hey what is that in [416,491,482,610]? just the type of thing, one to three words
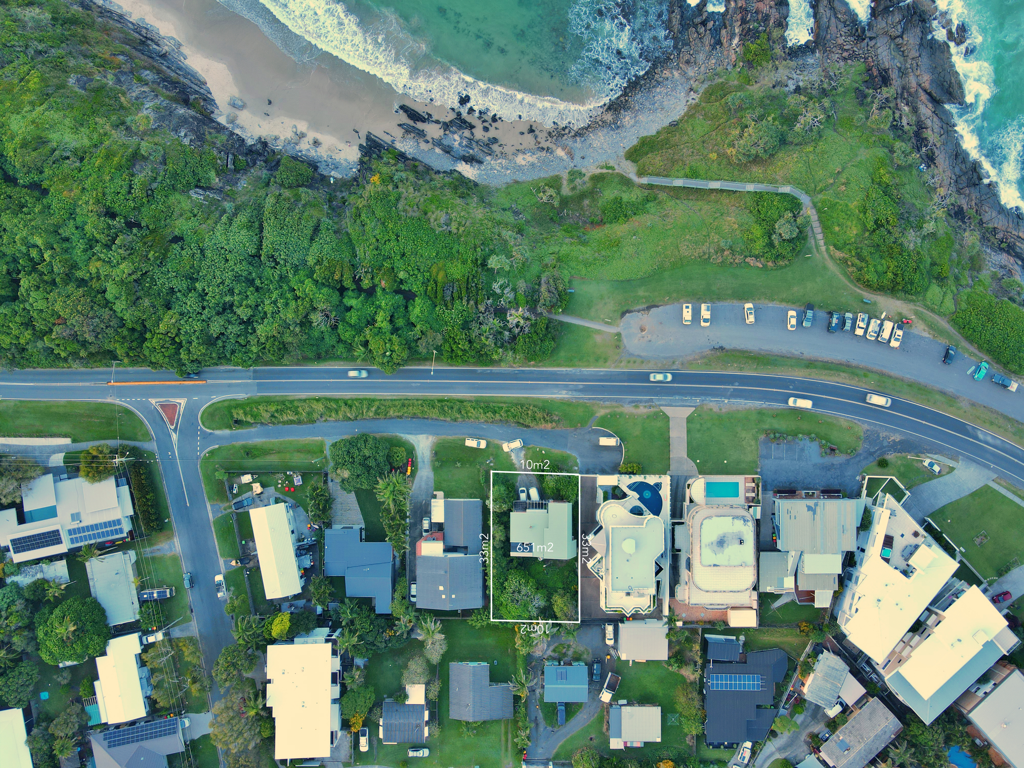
house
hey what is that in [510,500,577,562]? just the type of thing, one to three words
house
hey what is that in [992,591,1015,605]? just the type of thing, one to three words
car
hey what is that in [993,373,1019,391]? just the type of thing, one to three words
vehicle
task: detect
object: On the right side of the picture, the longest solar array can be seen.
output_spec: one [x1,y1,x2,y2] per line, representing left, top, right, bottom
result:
[710,674,760,690]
